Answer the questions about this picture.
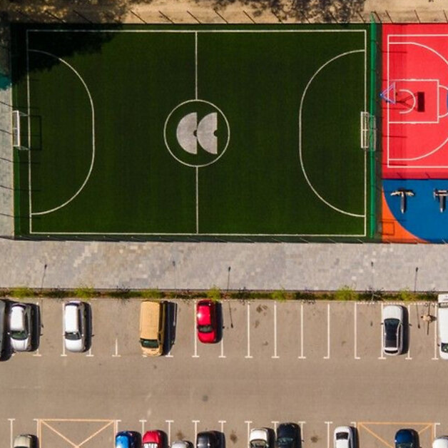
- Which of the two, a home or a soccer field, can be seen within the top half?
soccer field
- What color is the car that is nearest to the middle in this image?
red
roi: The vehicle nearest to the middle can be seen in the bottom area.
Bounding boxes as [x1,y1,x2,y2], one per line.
[195,300,217,342]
